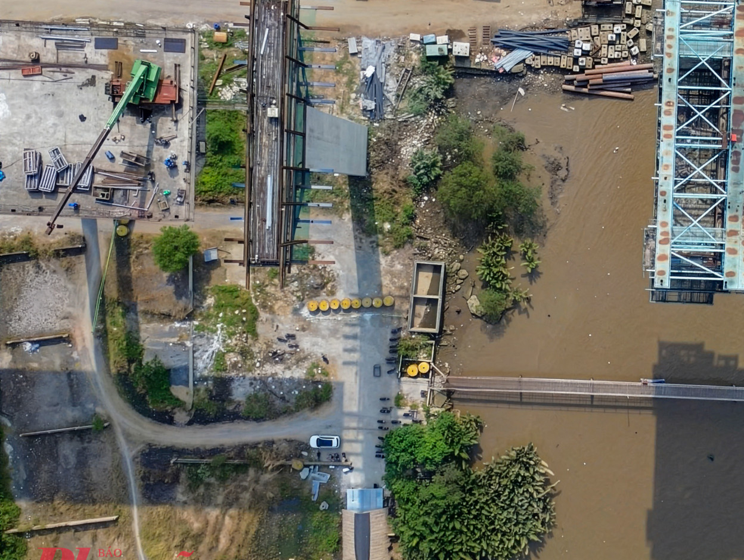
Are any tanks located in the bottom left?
No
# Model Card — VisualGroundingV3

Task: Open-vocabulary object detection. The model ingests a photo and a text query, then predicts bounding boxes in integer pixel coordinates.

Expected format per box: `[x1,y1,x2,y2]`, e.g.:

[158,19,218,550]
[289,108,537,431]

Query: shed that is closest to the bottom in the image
[341,510,389,560]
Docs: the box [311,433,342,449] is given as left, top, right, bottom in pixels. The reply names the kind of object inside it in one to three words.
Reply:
car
